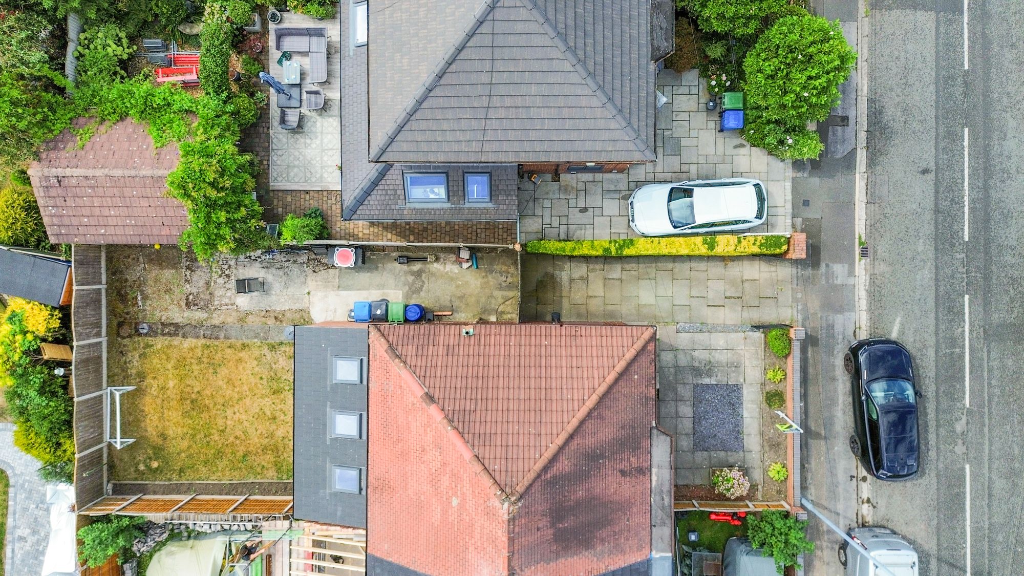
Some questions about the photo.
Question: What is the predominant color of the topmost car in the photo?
white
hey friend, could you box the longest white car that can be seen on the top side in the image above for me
[625,178,772,237]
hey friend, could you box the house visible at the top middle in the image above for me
[338,0,676,224]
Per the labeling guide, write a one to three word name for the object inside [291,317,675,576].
house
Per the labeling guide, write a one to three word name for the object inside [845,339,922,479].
car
